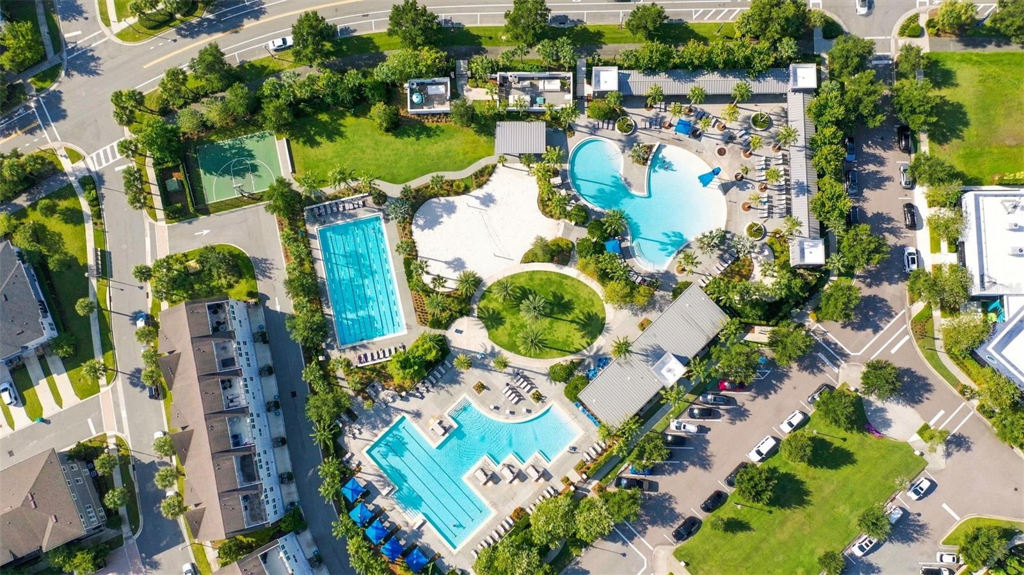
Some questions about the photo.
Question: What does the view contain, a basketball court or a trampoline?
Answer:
basketball court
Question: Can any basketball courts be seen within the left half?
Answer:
Yes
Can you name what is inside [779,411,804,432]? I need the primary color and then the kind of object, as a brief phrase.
white car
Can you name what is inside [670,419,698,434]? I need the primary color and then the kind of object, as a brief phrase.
white car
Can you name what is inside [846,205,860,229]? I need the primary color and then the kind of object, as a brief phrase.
black car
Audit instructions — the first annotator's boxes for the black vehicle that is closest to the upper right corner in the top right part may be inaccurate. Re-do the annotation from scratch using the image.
[896,126,911,151]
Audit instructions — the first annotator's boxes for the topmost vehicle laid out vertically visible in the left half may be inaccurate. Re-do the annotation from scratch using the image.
[134,305,149,335]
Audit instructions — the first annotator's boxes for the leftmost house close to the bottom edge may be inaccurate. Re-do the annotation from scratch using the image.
[0,446,106,568]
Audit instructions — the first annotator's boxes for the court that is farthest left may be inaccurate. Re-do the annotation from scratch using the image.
[196,131,285,204]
